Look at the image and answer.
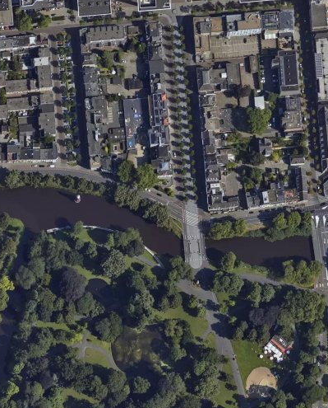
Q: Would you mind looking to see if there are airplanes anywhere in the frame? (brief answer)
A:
No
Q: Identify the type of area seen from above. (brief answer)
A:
residential area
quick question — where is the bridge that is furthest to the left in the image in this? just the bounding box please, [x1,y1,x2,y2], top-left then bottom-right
[184,209,206,268]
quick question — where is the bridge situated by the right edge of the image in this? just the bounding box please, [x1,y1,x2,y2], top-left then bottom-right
[312,211,328,262]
